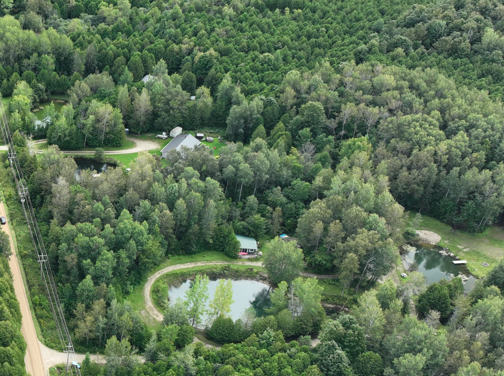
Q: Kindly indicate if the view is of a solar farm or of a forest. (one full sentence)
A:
The area seen from above is a forest.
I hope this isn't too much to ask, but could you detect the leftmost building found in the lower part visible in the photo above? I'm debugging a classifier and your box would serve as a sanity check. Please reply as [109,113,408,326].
[233,232,260,257]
